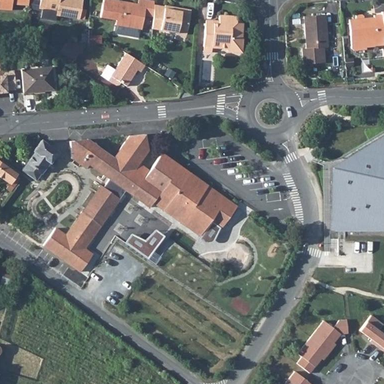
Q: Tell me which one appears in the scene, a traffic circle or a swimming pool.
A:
traffic circle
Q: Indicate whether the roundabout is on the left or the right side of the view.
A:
right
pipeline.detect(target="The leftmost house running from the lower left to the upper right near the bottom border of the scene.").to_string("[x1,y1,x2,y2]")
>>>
[296,320,341,373]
